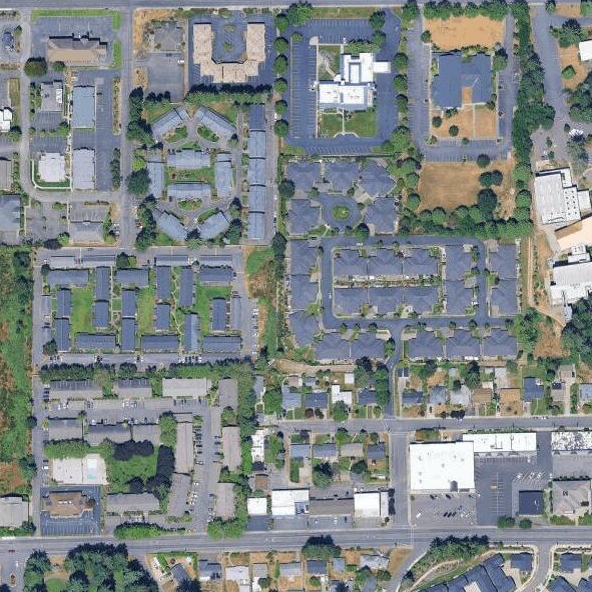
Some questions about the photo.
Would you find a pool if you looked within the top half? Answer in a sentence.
No, no pool can be made out within the top half.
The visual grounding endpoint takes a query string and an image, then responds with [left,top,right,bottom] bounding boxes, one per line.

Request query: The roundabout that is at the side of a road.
[321,191,361,232]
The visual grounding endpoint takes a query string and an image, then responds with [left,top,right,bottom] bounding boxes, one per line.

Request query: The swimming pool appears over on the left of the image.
[53,453,107,486]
